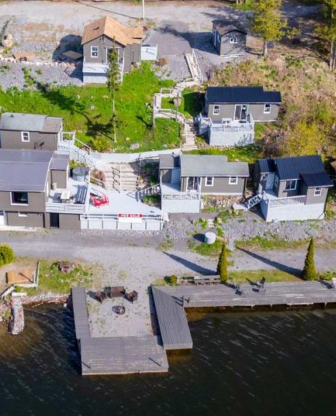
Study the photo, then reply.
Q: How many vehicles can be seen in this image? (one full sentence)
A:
The count of vehicles is 0.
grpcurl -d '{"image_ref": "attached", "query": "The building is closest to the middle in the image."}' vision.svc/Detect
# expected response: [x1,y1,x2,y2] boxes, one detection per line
[138,143,250,215]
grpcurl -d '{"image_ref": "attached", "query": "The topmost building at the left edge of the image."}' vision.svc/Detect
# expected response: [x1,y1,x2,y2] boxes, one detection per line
[0,110,102,156]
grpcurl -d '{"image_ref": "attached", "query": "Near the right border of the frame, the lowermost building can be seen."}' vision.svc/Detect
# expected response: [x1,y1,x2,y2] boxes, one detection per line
[233,142,336,223]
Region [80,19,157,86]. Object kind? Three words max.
house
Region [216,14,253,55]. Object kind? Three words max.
shed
